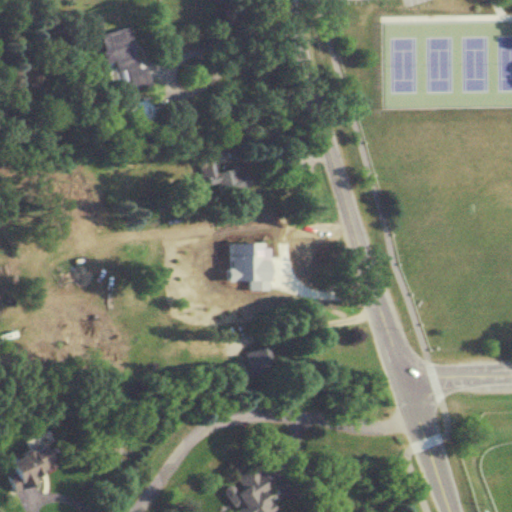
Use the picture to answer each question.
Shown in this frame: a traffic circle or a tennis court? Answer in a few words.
tennis court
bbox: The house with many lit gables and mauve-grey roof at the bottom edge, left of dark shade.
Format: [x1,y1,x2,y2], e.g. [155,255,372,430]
[235,470,280,512]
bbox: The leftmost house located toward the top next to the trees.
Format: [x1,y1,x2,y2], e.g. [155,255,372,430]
[102,26,156,90]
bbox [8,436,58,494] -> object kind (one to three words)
house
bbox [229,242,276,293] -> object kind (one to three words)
house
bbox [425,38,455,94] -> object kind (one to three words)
tennis court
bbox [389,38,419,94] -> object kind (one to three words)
tennis court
